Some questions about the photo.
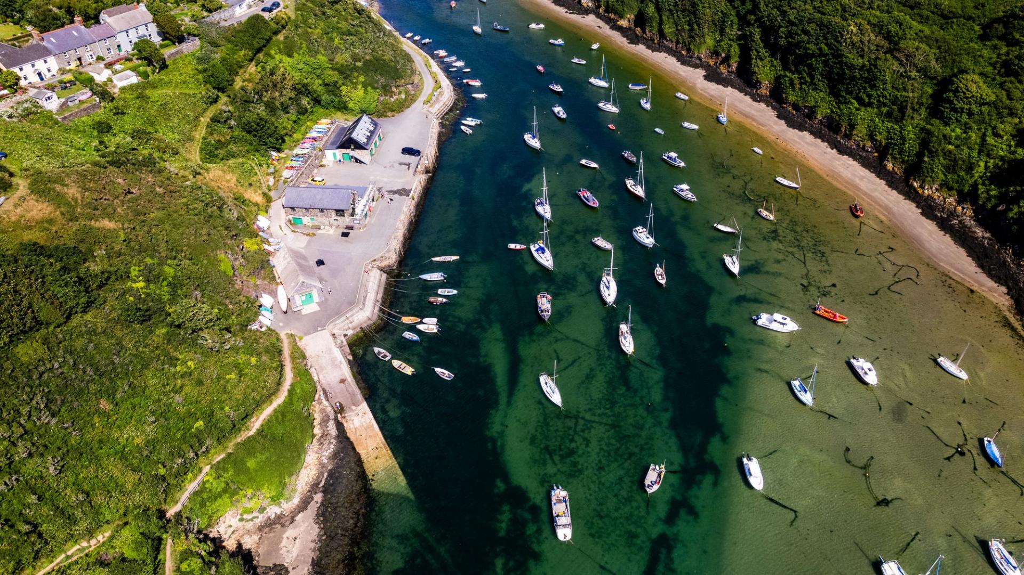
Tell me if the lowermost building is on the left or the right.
left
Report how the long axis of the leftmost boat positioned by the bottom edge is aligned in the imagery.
up and down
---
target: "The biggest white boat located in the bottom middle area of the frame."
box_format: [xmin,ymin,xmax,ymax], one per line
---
[551,484,572,553]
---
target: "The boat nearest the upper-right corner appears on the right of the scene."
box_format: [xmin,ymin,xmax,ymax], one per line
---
[847,197,865,220]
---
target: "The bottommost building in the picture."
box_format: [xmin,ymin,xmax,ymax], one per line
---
[270,229,324,317]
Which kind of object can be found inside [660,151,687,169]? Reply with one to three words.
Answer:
boat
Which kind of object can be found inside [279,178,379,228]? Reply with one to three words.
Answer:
building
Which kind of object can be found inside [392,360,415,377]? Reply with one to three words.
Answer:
boat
